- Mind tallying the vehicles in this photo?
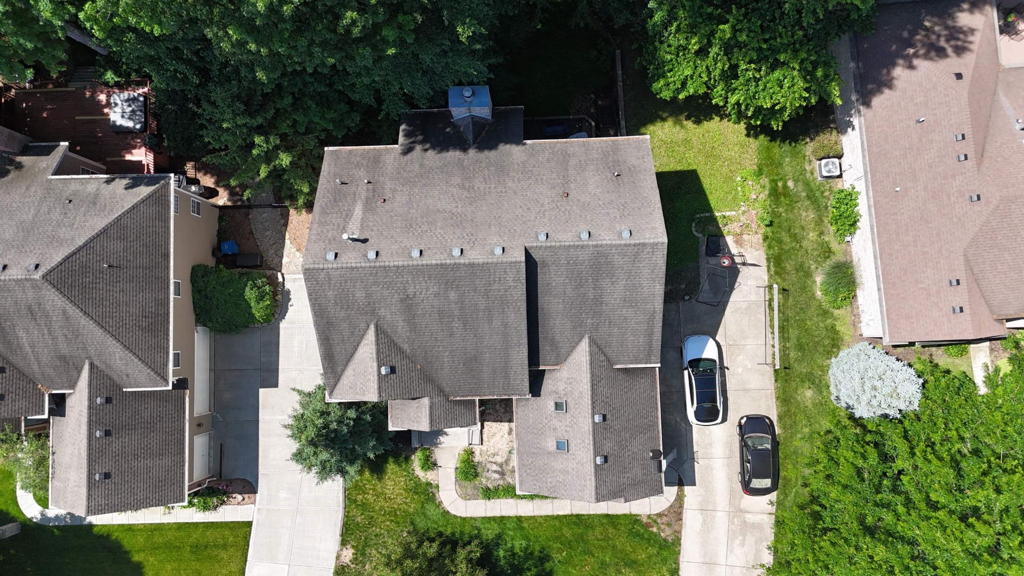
two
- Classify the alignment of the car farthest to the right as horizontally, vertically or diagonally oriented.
vertically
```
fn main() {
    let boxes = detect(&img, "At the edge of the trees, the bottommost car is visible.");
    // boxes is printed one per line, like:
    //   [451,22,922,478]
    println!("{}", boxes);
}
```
[736,413,778,497]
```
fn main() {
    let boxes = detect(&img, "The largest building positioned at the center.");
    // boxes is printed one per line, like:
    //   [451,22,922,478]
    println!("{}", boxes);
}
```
[303,85,669,502]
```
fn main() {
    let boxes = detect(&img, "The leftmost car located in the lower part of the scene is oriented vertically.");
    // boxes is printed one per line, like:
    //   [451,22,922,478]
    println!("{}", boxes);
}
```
[680,336,723,425]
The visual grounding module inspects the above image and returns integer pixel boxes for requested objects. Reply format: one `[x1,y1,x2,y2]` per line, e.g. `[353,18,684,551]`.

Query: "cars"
[680,336,723,425]
[736,413,778,497]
